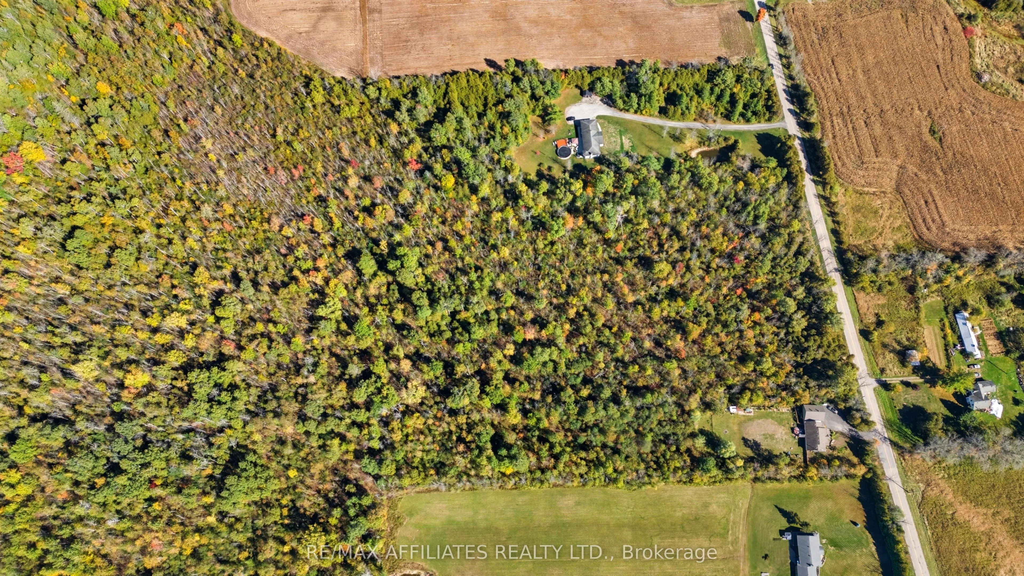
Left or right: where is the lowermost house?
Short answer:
right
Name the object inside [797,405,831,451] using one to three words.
house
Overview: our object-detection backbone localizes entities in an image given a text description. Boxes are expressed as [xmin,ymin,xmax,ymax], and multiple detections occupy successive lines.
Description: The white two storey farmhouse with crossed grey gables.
[963,380,996,411]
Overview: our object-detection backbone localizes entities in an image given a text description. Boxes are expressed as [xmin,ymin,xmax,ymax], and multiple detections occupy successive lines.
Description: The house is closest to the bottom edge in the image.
[789,532,825,576]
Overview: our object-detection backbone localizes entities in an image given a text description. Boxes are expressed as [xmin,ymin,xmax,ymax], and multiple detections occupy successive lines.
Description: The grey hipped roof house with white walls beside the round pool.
[577,119,604,159]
